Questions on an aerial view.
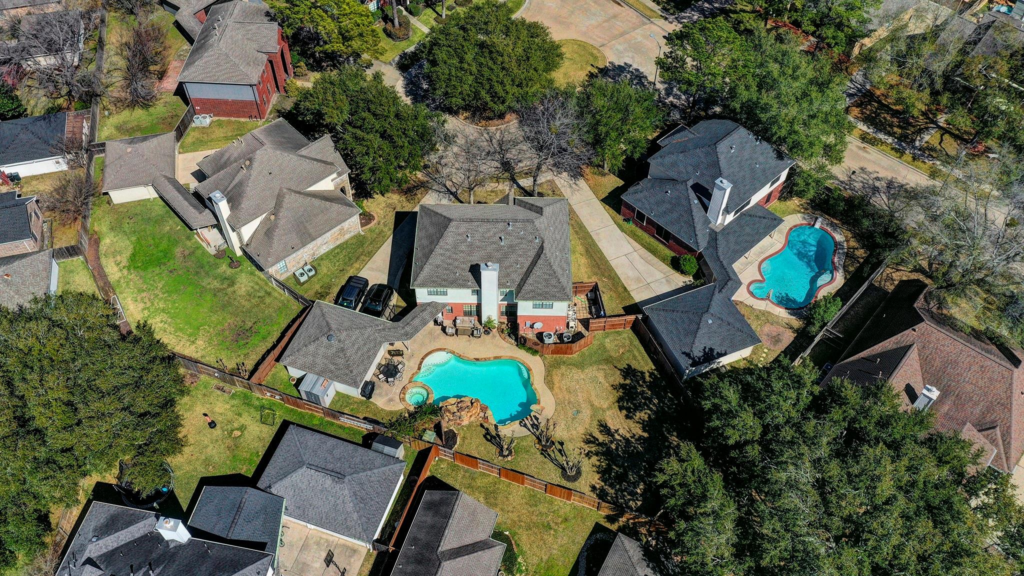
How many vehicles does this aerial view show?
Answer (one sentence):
There are 2 vehicles in the image.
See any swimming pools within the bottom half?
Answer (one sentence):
Yes, a swimming pool shows up within the bottom half.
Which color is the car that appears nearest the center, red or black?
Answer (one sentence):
From above, the car that appears nearest the center appears black.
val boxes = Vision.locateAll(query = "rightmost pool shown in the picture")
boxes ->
[745,222,839,312]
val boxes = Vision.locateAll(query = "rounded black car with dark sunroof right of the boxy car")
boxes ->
[359,277,395,318]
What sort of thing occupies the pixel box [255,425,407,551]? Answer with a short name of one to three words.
building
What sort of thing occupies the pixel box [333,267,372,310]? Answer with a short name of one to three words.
car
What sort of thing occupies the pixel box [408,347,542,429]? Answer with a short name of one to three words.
swimming pool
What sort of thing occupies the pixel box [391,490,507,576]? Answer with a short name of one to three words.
house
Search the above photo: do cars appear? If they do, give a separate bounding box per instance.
[359,277,395,318]
[333,267,372,310]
